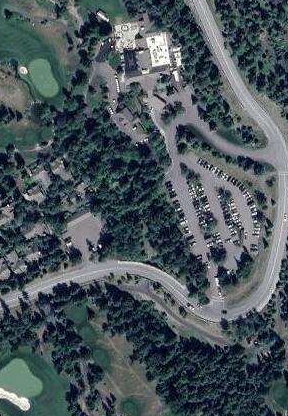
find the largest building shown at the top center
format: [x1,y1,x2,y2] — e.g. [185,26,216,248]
[124,28,174,79]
